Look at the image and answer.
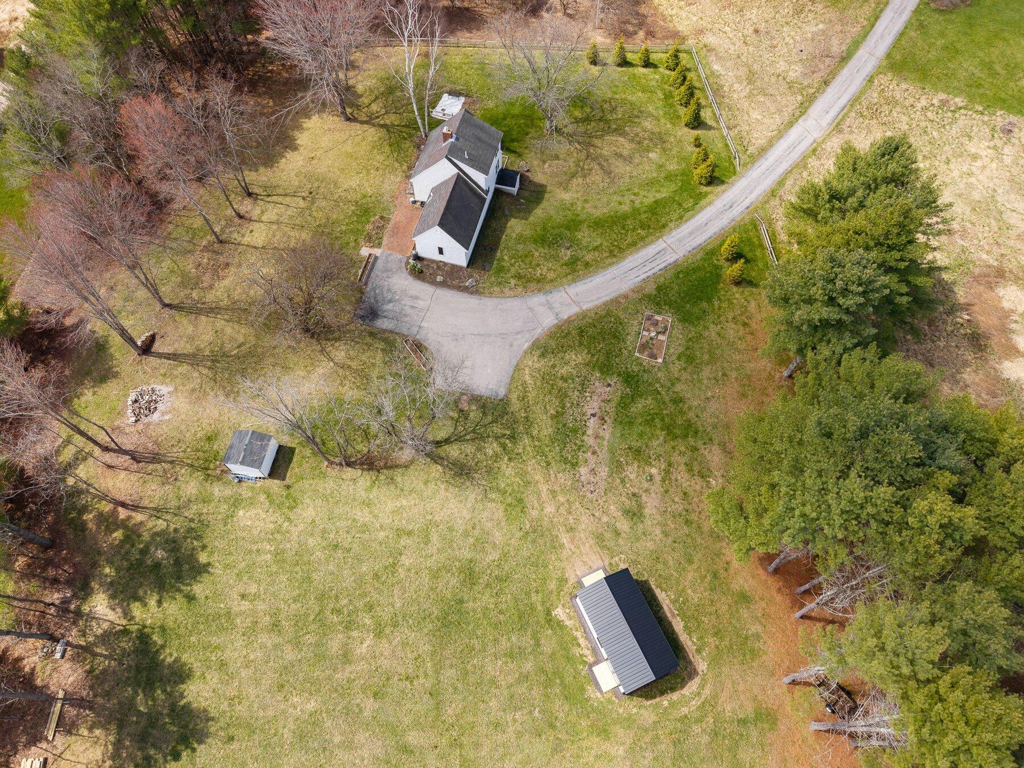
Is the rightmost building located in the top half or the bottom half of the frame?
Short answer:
bottom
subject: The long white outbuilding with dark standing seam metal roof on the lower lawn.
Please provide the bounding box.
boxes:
[576,567,680,694]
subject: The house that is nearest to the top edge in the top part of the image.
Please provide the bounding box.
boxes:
[409,107,521,266]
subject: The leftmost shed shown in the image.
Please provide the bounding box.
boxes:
[223,428,278,478]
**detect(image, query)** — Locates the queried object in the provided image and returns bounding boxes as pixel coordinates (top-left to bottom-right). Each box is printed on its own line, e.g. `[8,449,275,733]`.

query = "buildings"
[576,567,680,694]
[409,107,521,266]
[223,428,278,478]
